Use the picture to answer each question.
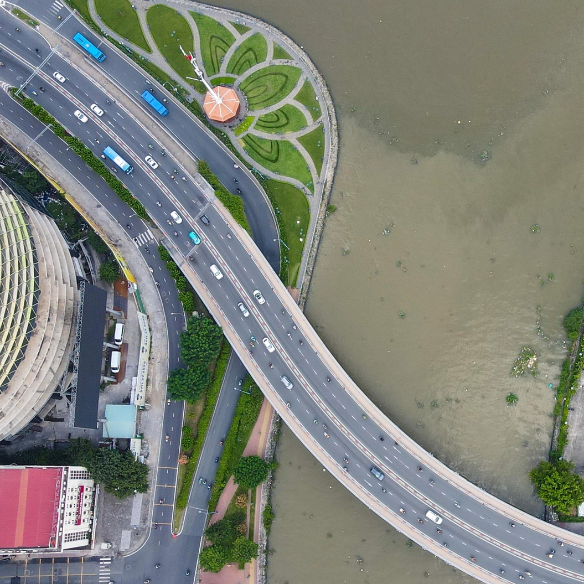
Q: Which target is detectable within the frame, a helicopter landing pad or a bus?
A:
bus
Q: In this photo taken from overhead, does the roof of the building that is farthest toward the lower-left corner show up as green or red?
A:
red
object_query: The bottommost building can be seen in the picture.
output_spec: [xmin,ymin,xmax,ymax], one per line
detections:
[0,455,97,553]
